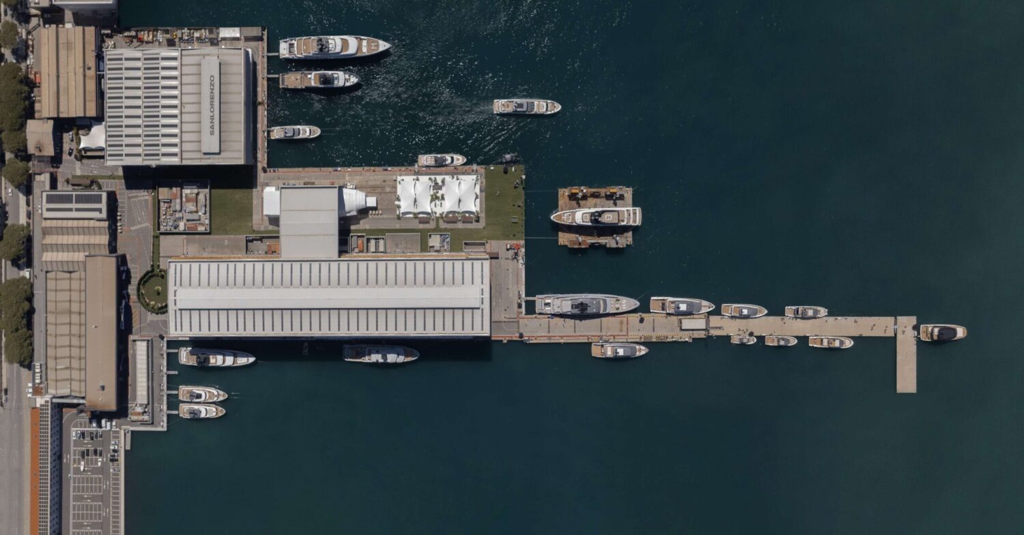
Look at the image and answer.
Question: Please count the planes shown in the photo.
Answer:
zero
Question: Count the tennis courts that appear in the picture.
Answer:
0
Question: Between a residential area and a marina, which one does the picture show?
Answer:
marina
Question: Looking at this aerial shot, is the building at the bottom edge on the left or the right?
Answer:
left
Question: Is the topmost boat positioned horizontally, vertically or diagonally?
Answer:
horizontally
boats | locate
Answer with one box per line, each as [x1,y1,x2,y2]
[650,297,715,313]
[551,208,641,227]
[180,403,225,418]
[765,336,797,346]
[344,345,418,363]
[280,71,359,88]
[281,34,391,57]
[591,343,648,357]
[809,337,854,348]
[493,99,561,114]
[418,154,466,166]
[536,295,640,314]
[784,306,828,318]
[730,335,756,344]
[721,304,767,317]
[180,386,227,402]
[919,325,968,341]
[271,125,321,138]
[180,349,255,367]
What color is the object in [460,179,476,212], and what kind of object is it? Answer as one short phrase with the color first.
white tent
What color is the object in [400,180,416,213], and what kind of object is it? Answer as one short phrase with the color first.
white tent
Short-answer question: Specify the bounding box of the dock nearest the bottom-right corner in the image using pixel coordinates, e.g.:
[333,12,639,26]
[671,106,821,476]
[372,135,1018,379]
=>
[895,316,916,393]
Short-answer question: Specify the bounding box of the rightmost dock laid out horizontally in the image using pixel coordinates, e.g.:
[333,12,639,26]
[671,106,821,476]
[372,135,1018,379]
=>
[710,316,895,336]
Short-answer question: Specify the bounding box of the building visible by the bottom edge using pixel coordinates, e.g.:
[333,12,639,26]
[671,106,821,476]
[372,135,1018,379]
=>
[29,395,62,535]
